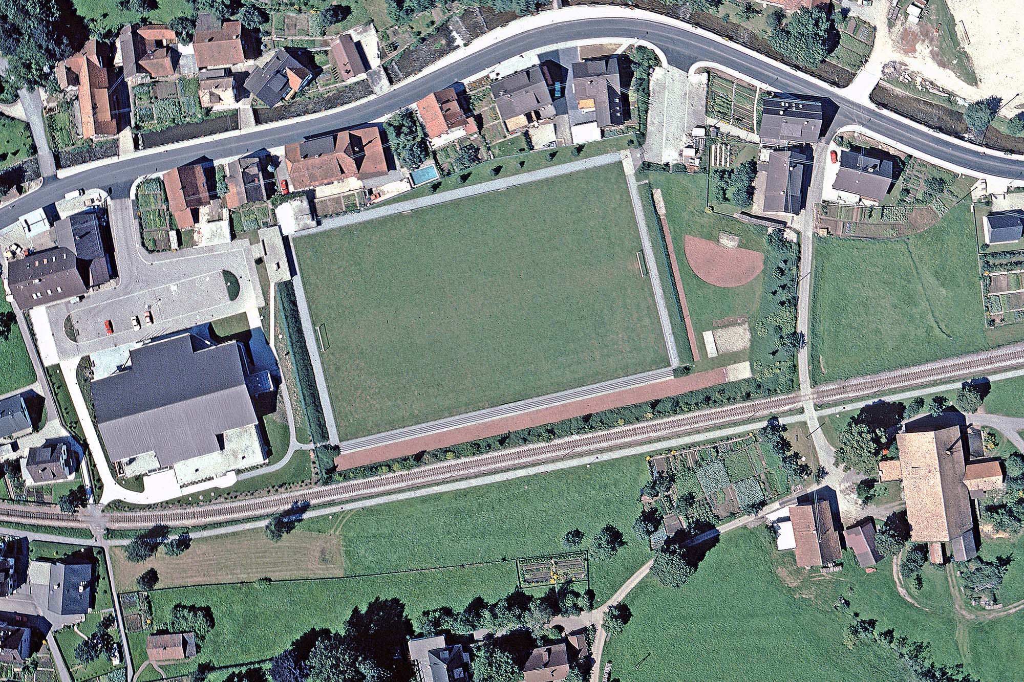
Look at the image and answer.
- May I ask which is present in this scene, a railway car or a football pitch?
football pitch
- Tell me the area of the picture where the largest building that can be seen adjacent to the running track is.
left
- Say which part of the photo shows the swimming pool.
top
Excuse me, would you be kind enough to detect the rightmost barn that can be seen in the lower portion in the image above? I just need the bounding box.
[878,425,1003,563]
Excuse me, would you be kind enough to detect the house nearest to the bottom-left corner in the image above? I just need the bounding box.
[0,625,29,664]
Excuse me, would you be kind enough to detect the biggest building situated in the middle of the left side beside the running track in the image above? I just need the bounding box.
[90,334,274,484]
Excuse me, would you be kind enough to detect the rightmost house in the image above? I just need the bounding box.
[984,212,1023,243]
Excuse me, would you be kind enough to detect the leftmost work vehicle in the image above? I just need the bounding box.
[7,240,24,254]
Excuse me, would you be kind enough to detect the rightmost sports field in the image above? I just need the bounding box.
[684,233,764,286]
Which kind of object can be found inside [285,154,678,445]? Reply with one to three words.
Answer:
soccer field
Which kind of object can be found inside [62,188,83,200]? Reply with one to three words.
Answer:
vehicle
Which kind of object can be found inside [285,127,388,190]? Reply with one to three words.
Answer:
building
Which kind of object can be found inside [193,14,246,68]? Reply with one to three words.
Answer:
house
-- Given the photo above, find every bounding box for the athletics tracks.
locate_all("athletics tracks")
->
[335,369,727,471]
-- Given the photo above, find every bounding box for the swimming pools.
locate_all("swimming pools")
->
[410,164,439,185]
